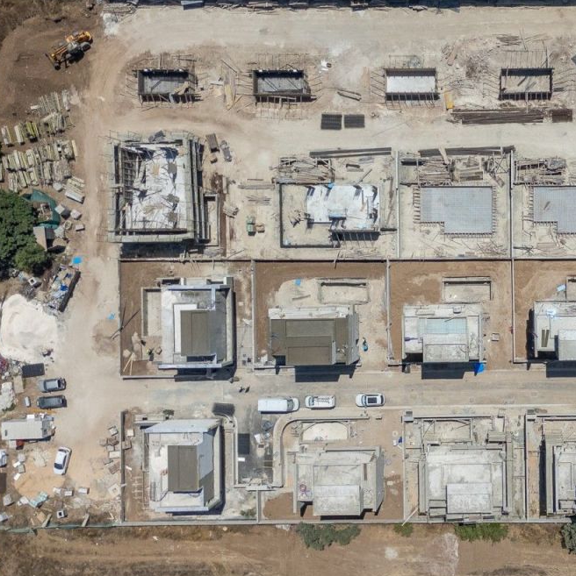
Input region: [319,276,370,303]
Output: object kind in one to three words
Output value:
swimming pool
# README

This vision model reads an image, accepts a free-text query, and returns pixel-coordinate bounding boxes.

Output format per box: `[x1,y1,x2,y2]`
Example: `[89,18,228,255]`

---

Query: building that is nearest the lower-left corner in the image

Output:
[1,414,63,441]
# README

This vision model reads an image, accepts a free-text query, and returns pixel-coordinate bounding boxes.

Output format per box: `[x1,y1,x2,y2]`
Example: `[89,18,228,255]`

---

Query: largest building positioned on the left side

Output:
[100,134,213,242]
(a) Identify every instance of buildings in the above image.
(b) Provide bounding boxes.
[100,134,213,242]
[403,303,484,362]
[144,422,222,511]
[532,300,576,360]
[268,306,360,364]
[159,276,246,368]
[425,438,506,513]
[293,442,384,516]
[552,438,576,511]
[35,226,61,250]
[1,414,63,441]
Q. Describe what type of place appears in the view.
residential area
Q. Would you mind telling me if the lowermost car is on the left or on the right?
left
